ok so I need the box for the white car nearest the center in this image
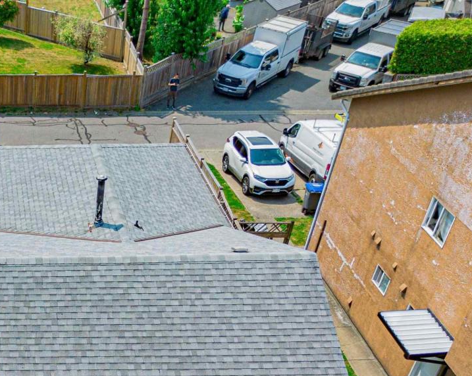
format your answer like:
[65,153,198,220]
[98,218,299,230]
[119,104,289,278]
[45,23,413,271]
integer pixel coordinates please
[220,126,305,197]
